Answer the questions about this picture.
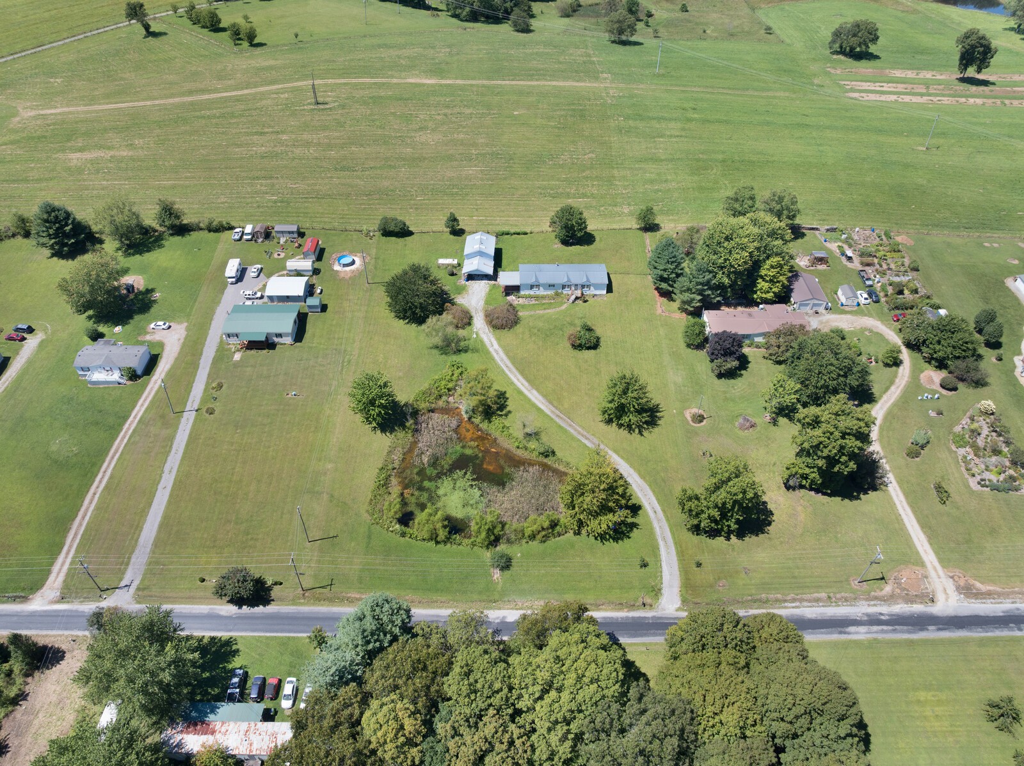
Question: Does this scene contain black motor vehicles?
Yes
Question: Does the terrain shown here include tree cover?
Yes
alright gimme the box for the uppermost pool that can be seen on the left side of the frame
[335,256,355,271]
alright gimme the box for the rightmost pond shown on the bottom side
[396,411,567,538]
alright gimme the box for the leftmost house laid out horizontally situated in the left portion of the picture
[73,344,155,376]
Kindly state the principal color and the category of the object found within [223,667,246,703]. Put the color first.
black truck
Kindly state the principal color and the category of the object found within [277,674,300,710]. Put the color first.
white car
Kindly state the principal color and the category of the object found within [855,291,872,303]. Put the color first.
white vehicle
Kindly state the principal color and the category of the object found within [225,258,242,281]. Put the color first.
white camper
